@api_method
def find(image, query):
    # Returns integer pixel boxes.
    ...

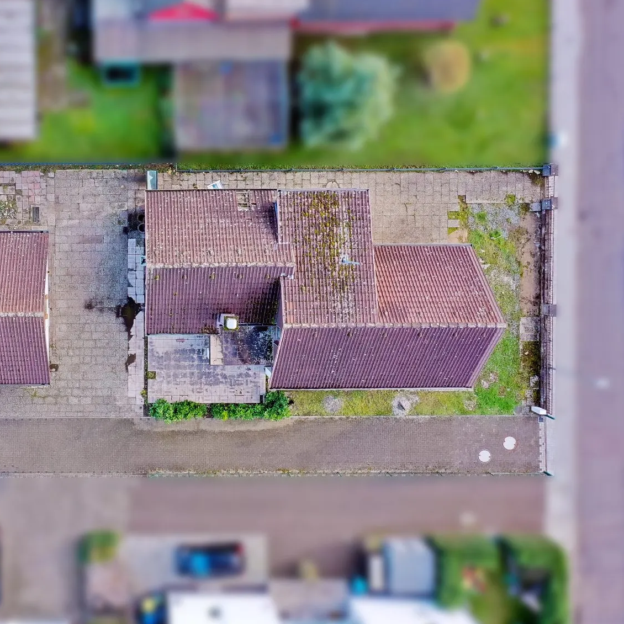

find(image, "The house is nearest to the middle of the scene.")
[145,187,508,393]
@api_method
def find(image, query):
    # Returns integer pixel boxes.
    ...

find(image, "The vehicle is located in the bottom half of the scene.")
[176,542,245,586]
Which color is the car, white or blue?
blue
